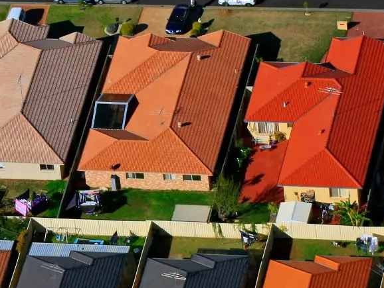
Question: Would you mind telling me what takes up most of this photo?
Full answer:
The scene is dominated by buildings.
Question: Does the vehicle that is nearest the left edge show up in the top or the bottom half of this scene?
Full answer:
Seen from above, the vehicle that is nearest the left edge lies in the top half of the view.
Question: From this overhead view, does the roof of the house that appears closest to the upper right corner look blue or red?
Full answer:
From above, the roof of the house that appears closest to the upper right corner appears red.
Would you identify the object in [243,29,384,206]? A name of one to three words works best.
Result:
house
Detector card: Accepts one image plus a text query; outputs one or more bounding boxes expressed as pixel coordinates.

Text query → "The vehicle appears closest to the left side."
[2,1,27,22]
